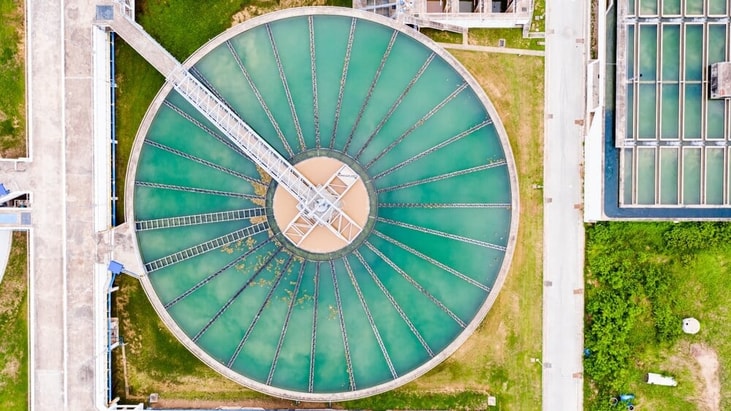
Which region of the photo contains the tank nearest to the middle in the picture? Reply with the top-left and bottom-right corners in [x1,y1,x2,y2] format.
[125,7,520,402]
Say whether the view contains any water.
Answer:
Yes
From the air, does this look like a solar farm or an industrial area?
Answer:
industrial area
